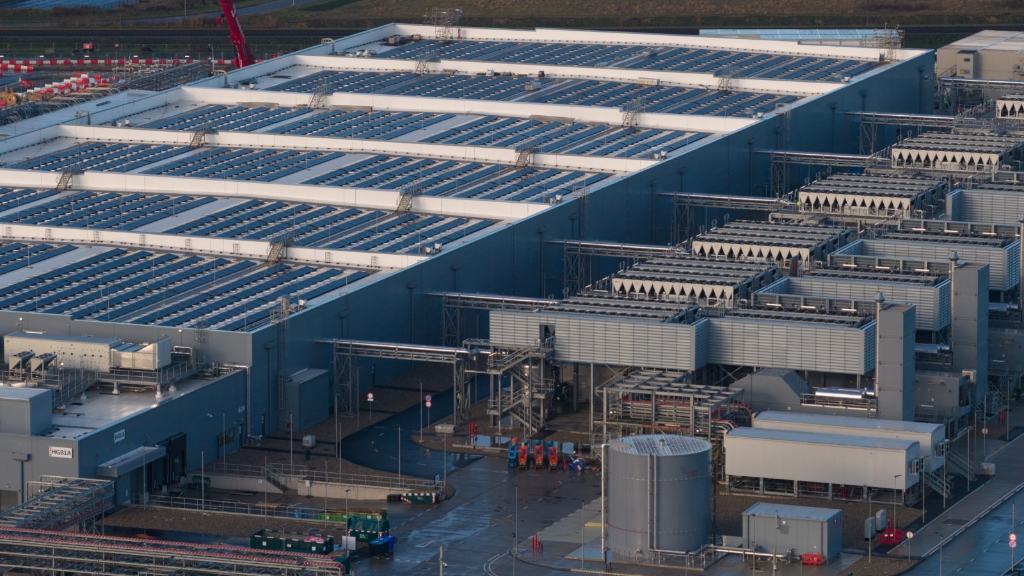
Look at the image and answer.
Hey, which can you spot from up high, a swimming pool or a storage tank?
storage tank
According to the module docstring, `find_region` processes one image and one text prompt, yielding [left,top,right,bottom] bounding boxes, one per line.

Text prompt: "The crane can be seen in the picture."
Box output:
[211,0,260,70]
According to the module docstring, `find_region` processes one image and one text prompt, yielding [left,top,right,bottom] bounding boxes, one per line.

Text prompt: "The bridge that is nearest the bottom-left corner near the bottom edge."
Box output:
[0,479,118,561]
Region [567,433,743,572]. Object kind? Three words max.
storage tank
